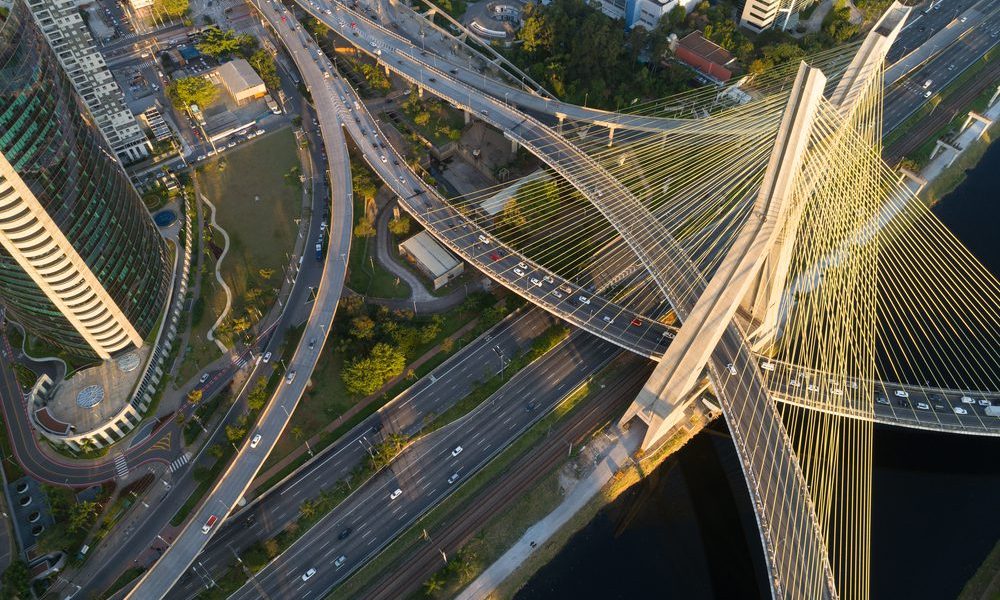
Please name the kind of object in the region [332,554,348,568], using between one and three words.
vehicle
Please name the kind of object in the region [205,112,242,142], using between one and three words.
shed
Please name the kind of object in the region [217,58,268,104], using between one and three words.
building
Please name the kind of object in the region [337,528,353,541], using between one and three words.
vehicle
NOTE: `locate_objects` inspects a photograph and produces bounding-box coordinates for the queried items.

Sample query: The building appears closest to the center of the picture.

[397,228,465,286]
